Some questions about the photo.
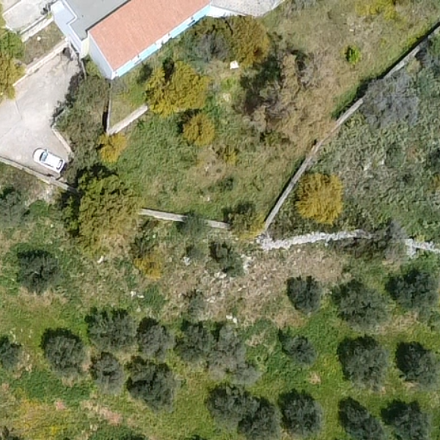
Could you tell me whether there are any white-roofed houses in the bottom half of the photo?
No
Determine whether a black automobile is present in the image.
No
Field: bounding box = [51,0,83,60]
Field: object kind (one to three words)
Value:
house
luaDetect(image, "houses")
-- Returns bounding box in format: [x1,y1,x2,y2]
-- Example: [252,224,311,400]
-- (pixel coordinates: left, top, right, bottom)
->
[85,0,212,81]
[51,0,83,60]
